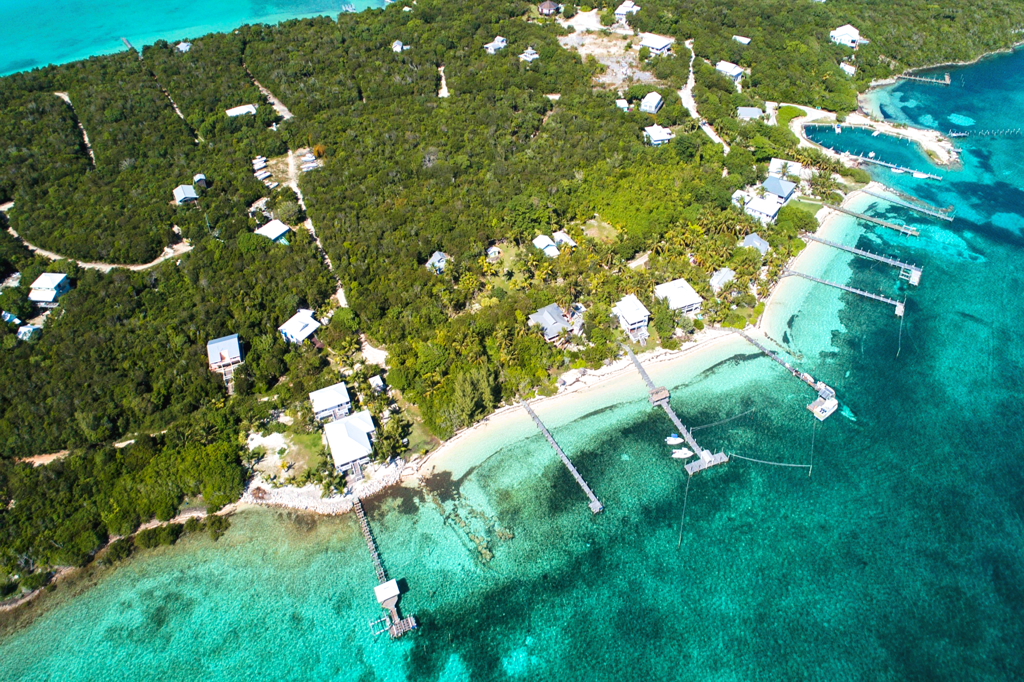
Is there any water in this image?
Yes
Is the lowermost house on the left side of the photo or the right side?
left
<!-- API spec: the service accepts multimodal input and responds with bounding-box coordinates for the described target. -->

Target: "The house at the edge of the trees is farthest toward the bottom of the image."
[324,410,378,486]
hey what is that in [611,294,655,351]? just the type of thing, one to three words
house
